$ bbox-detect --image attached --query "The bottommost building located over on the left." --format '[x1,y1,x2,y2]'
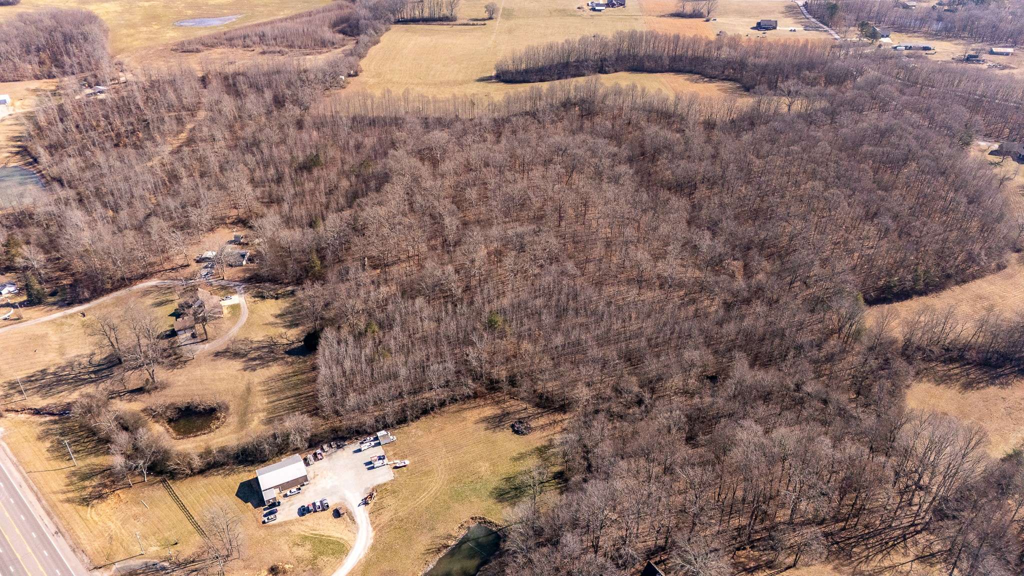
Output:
[254,453,307,505]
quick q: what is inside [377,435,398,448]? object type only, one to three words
vehicle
